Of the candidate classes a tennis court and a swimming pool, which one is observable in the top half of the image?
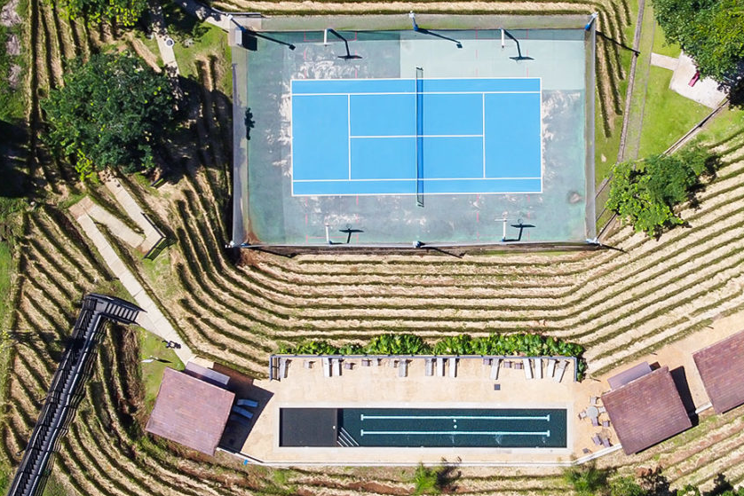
tennis court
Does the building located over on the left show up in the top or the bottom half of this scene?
bottom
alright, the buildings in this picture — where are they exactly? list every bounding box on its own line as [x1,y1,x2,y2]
[145,358,239,456]
[601,359,692,455]
[692,327,744,414]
